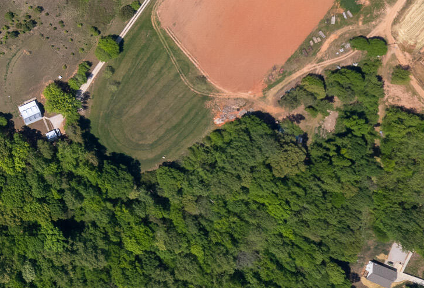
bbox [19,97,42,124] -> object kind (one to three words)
house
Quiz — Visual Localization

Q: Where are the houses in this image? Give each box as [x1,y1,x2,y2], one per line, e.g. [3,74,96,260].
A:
[19,97,42,124]
[362,261,394,288]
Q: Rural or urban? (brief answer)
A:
rural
